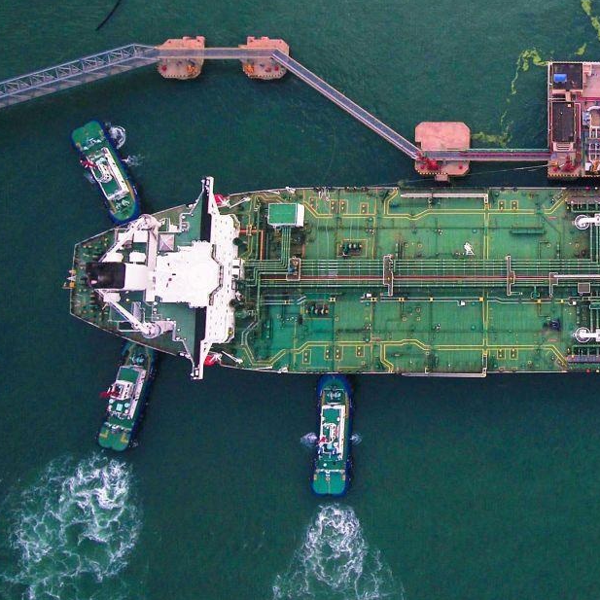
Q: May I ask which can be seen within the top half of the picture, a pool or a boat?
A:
boat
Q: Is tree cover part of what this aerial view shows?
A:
No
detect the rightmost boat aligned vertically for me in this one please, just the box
[304,373,355,498]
